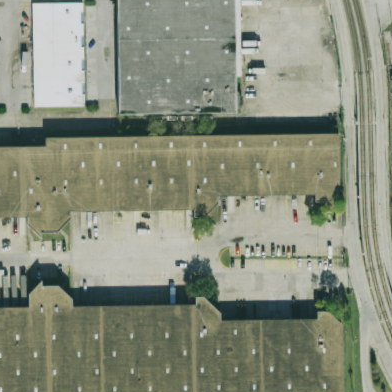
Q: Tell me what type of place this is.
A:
industrial area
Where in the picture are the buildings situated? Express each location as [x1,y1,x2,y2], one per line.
[118,0,242,116]
[0,134,340,238]
[0,281,344,392]
[32,2,86,109]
